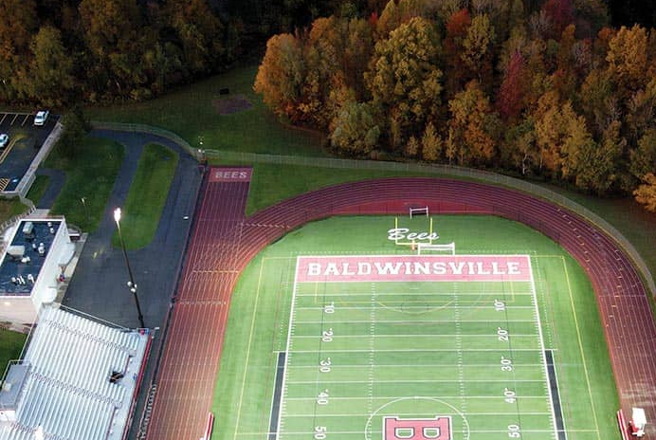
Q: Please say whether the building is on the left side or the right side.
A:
left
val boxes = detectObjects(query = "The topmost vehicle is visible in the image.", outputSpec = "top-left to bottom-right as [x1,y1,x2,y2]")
[34,109,46,123]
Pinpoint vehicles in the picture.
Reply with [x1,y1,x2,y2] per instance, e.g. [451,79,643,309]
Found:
[0,133,9,145]
[34,109,46,123]
[631,409,646,433]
